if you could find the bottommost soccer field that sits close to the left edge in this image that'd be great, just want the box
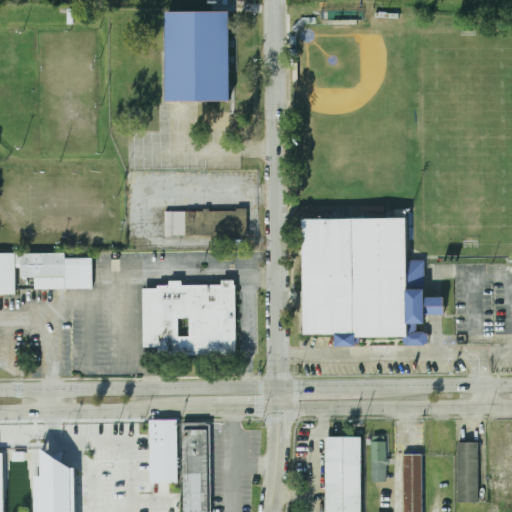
[2,166,120,240]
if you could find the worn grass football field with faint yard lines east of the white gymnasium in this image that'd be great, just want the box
[424,44,512,248]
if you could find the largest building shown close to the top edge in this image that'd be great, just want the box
[165,12,231,101]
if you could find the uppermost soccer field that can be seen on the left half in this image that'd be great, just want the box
[40,26,106,153]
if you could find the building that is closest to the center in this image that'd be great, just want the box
[186,208,248,235]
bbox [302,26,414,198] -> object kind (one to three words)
baseball field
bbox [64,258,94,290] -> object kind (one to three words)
building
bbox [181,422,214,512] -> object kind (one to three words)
building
